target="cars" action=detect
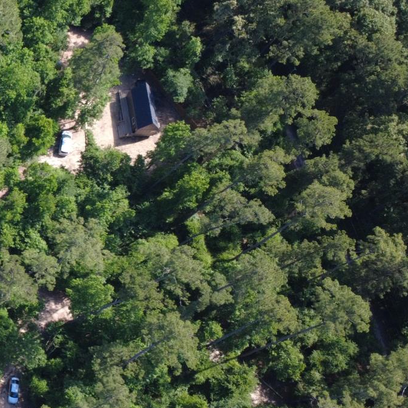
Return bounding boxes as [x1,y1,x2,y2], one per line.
[57,130,73,157]
[6,374,21,407]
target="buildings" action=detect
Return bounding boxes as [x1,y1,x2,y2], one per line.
[111,82,160,135]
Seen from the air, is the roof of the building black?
Yes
